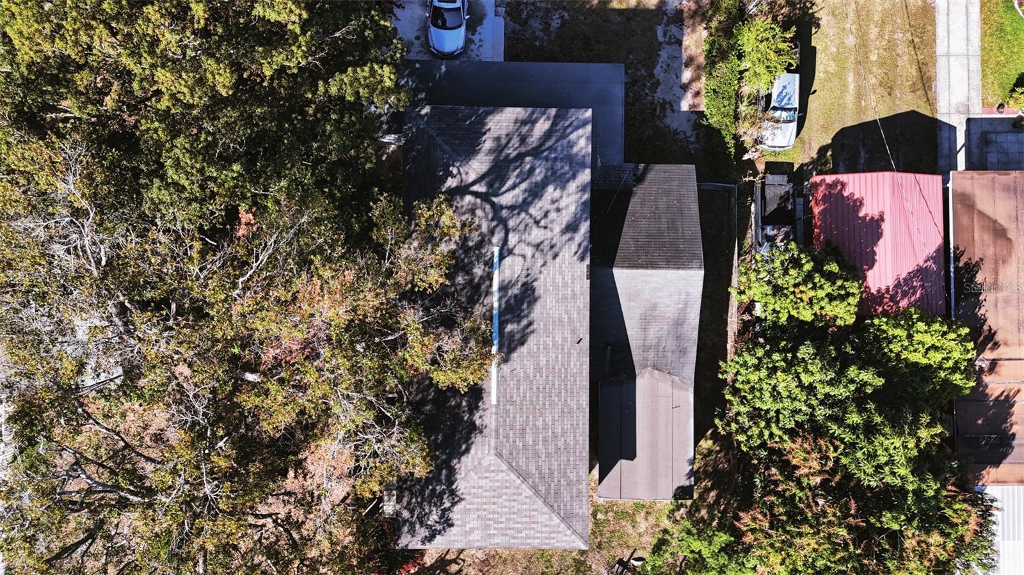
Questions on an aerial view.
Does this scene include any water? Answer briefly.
No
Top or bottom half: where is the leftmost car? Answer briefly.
top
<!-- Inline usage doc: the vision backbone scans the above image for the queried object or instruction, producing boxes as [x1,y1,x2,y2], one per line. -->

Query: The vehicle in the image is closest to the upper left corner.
[421,0,473,59]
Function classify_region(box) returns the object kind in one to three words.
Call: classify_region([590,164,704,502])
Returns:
house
